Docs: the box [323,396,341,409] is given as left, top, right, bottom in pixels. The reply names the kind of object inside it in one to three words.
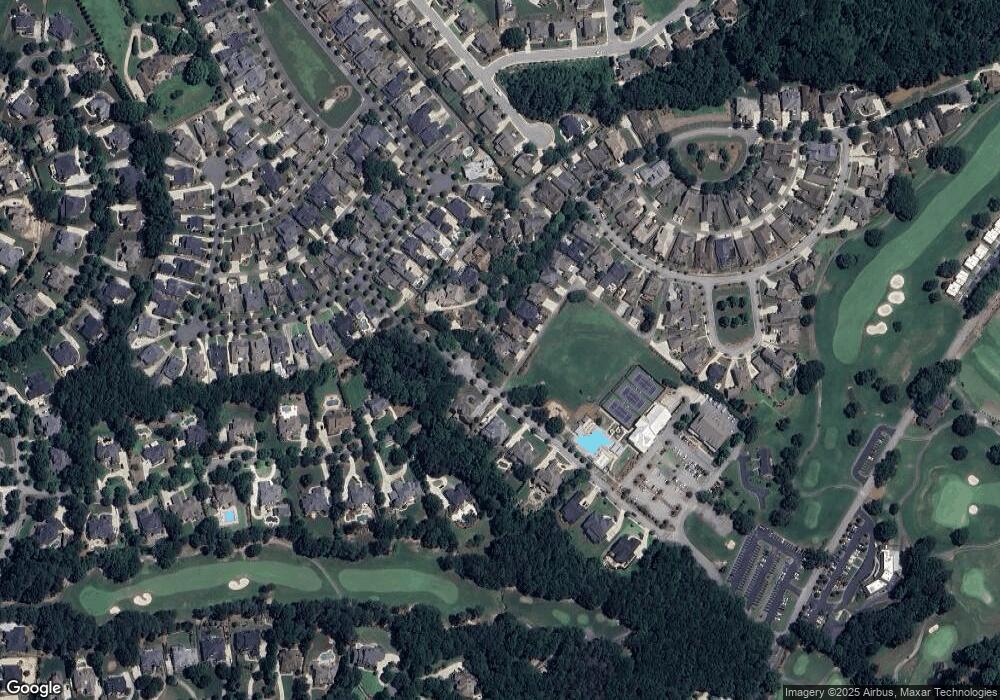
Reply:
swimming pool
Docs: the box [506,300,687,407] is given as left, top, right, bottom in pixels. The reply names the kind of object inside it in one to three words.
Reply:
sports field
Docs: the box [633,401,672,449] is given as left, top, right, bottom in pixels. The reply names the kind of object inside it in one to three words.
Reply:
building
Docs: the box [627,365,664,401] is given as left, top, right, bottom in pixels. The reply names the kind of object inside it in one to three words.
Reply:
tennis court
